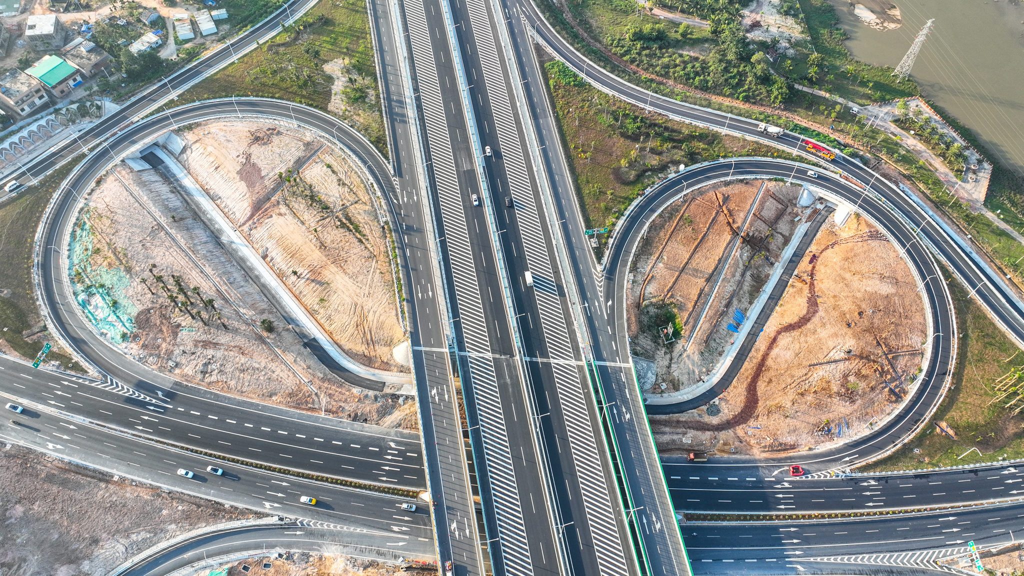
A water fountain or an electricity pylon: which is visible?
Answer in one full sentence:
Visible in the photo is an electricity pylon.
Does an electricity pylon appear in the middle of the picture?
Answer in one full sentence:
No, there's no electricity pylon to be seen in the middle of the picture.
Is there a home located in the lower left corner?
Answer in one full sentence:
No, in the lower left corner there is no home.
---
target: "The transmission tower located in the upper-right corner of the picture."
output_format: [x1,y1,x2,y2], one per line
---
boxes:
[890,19,934,83]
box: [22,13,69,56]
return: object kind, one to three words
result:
building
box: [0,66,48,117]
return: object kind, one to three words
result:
house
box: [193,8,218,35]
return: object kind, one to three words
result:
shed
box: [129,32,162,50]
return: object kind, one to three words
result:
shed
